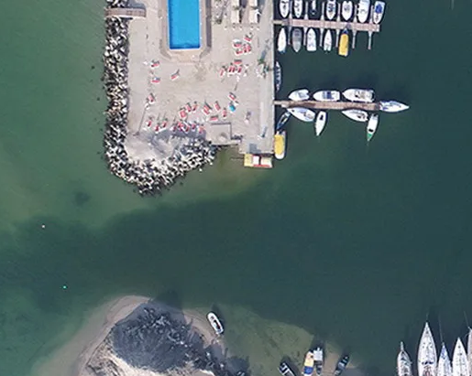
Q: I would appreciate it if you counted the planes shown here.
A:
none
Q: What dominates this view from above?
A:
water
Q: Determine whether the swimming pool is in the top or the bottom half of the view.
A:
top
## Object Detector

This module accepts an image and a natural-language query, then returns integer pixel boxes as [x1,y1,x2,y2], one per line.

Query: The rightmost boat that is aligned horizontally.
[380,99,409,113]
